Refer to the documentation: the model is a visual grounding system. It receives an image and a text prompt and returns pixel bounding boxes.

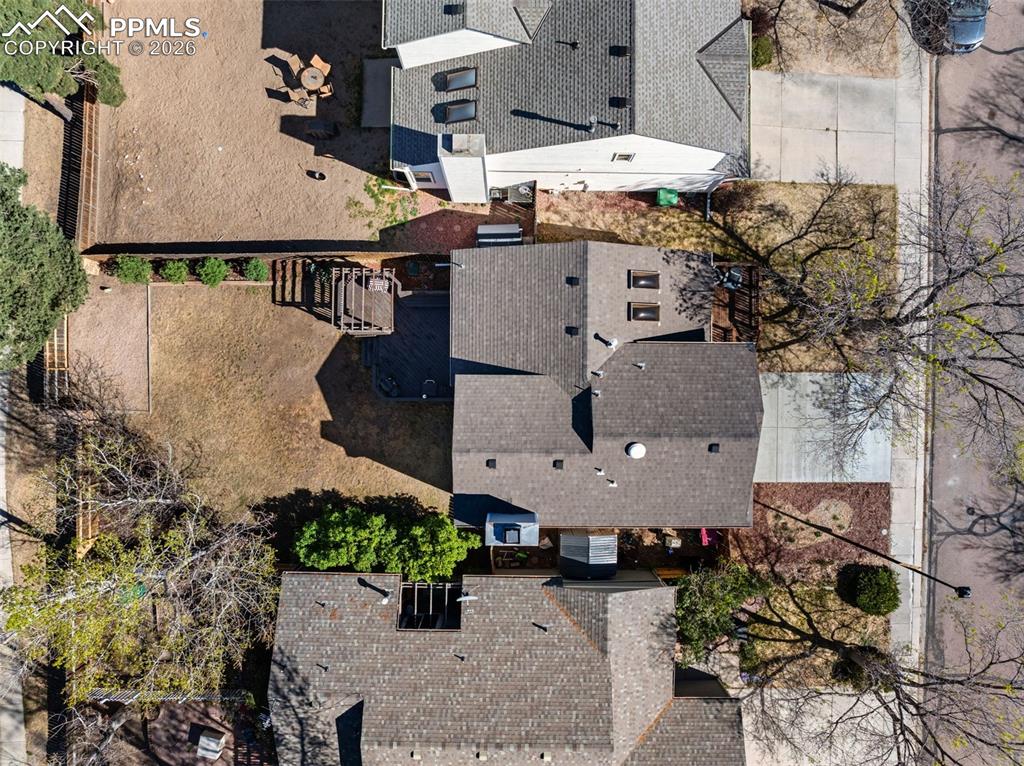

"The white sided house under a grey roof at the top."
[380,0,752,221]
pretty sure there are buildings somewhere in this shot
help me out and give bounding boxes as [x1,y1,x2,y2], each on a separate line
[448,241,767,546]
[380,0,752,221]
[268,562,746,766]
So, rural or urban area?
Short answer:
urban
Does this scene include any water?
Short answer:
No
